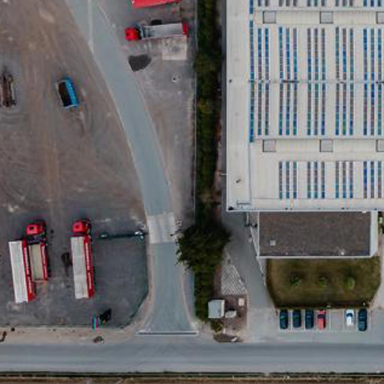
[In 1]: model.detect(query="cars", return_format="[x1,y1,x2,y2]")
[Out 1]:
[291,308,302,327]
[358,308,368,331]
[317,309,327,329]
[347,308,354,327]
[278,308,290,328]
[303,308,315,328]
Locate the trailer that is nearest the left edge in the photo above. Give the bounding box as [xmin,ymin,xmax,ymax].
[9,237,39,303]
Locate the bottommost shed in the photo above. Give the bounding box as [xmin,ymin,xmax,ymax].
[208,297,227,318]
